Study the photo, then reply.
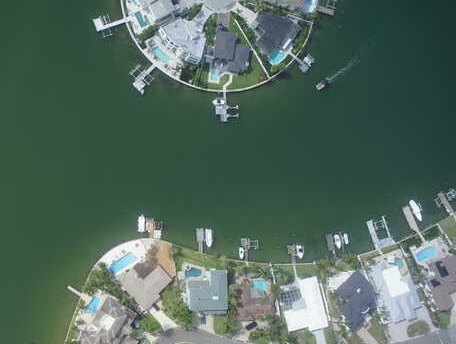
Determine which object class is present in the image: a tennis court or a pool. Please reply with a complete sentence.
Of the two, only a pool appears.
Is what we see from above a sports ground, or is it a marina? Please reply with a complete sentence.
What you see here is a marina.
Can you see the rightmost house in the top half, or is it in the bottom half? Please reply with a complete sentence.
It is in the bottom half that the rightmost house appears.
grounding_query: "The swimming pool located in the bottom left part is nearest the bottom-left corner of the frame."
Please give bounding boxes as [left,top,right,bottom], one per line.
[84,297,102,315]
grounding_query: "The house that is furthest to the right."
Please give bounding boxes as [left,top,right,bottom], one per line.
[426,255,456,311]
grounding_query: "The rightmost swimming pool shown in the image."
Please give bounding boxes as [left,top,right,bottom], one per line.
[415,245,437,261]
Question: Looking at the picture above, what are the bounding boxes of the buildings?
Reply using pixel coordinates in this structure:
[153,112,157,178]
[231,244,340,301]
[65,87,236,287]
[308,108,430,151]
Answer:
[115,263,173,310]
[77,296,140,344]
[158,18,206,65]
[255,12,301,58]
[368,263,420,322]
[426,255,456,311]
[333,272,376,331]
[215,32,250,73]
[189,270,227,312]
[260,0,306,12]
[144,0,176,22]
[282,276,328,331]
